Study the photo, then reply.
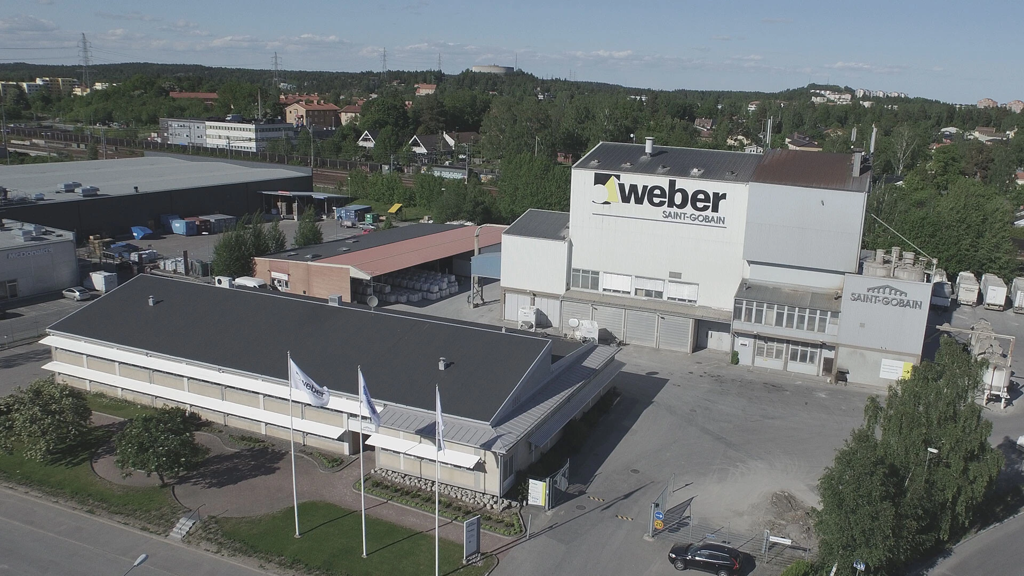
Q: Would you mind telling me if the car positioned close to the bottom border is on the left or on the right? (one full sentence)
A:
The car positioned close to the bottom border sits on the right side.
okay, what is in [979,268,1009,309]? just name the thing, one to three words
truck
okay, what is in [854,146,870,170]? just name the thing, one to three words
chimney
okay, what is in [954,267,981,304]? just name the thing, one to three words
truck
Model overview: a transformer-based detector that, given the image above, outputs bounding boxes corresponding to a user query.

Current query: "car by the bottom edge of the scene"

[665,536,745,576]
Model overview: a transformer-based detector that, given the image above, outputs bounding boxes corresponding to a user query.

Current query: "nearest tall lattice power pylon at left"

[73,33,96,95]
